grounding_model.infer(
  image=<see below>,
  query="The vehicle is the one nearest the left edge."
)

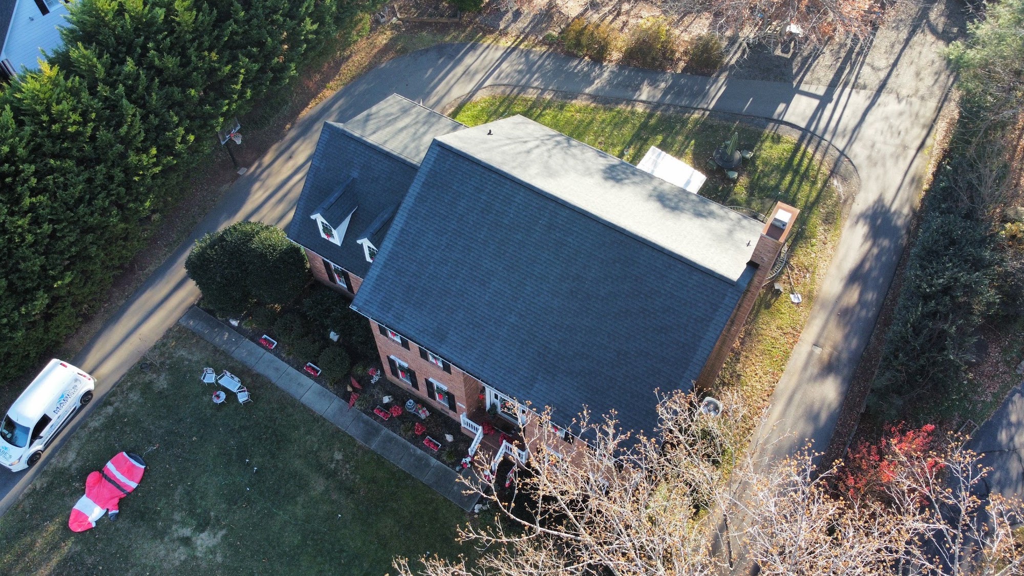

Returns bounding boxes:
[0,348,102,471]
